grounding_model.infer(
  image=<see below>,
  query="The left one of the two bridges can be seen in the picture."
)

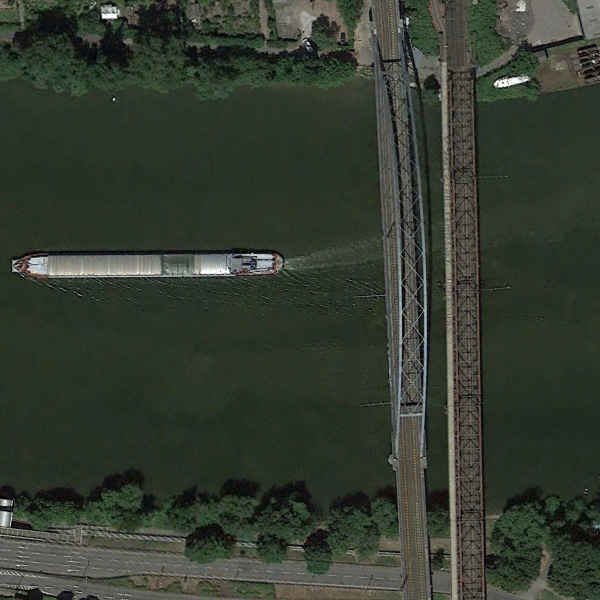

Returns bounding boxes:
[369,0,432,600]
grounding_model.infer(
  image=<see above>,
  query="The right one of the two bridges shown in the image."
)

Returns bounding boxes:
[437,57,486,600]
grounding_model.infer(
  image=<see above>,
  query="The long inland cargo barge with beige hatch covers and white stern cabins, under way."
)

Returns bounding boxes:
[11,251,285,278]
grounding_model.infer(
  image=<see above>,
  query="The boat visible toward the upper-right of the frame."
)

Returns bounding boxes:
[493,75,530,88]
